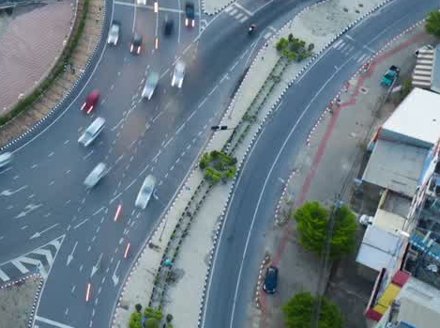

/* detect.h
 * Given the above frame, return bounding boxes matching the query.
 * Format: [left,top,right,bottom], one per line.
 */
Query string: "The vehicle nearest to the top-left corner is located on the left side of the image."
[107,22,121,46]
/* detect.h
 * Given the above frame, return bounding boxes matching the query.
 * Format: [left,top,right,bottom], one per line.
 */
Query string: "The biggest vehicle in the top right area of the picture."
[379,63,400,89]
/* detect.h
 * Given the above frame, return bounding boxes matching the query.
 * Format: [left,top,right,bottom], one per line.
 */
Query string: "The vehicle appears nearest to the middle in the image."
[136,173,157,208]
